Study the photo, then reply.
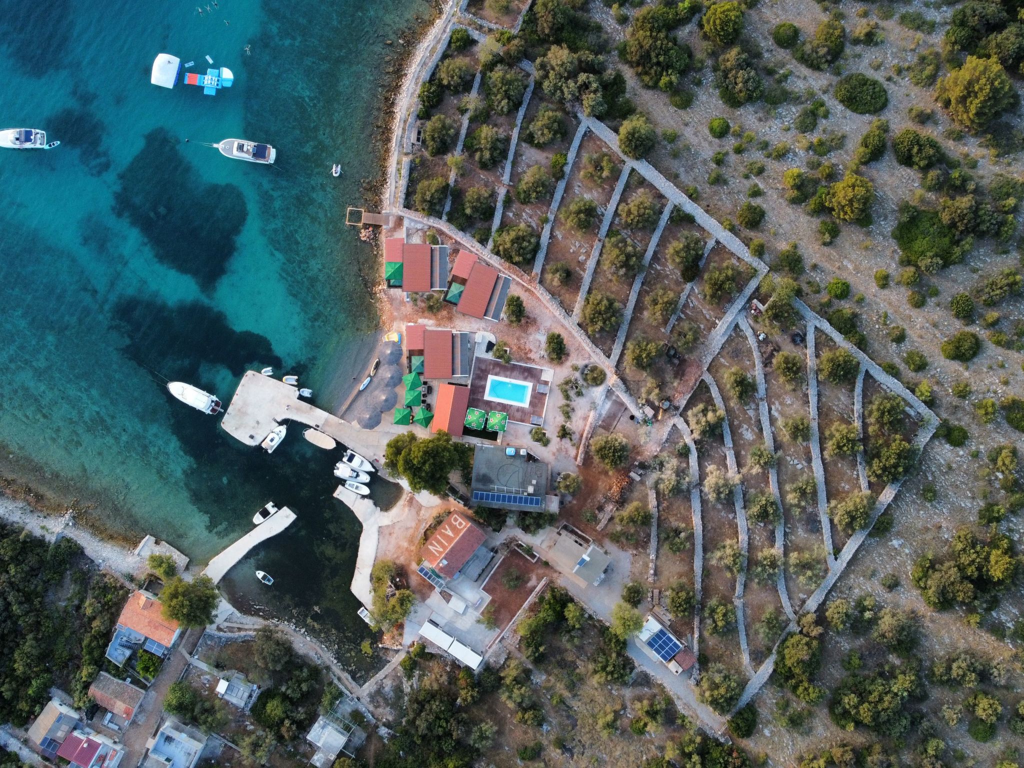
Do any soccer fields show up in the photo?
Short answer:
No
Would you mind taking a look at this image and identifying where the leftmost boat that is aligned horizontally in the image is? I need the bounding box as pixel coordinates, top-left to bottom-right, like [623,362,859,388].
[0,126,49,148]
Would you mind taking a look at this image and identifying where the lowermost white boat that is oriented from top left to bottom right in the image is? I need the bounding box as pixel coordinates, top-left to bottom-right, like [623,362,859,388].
[357,606,373,625]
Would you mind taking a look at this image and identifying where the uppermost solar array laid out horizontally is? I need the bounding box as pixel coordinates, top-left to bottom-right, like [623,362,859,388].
[473,491,540,507]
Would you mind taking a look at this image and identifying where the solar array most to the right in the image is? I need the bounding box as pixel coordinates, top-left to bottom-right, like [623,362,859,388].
[647,629,682,663]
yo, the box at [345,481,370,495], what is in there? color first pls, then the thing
white boat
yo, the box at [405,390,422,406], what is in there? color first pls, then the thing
green umbrella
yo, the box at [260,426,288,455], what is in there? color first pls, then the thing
white boat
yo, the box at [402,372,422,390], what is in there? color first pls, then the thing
green umbrella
